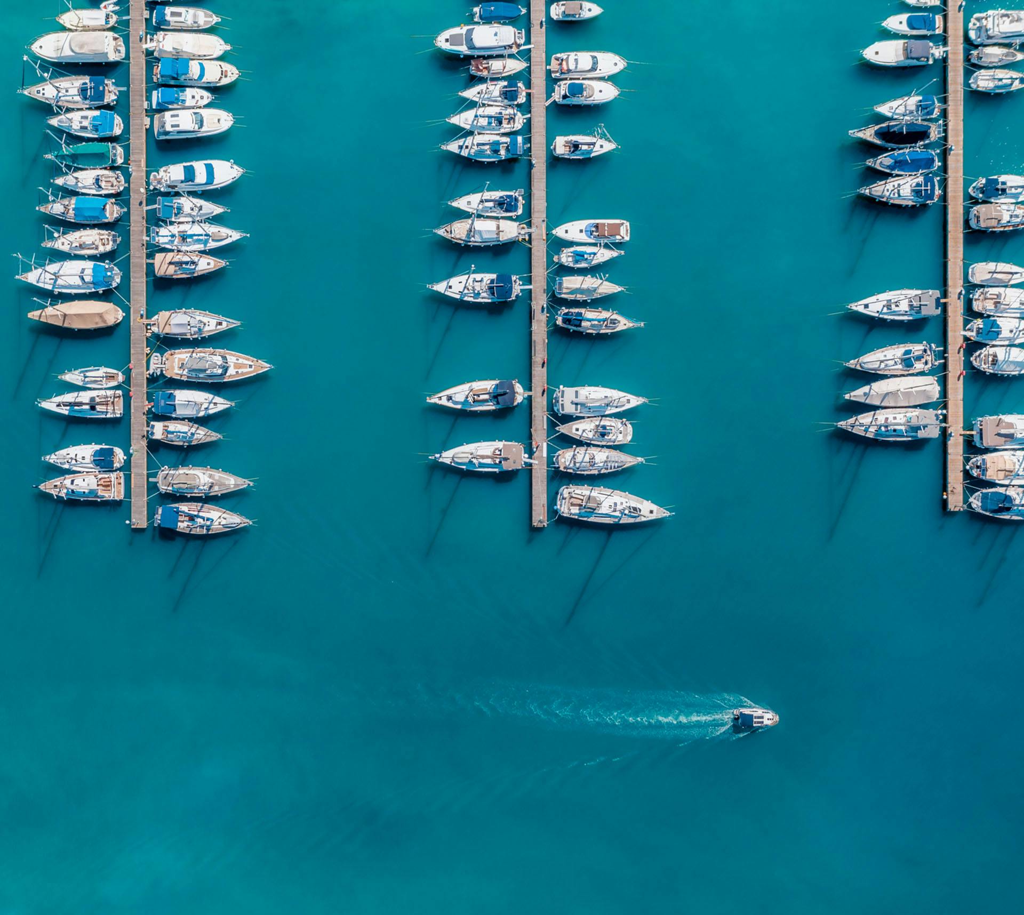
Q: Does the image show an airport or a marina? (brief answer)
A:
marina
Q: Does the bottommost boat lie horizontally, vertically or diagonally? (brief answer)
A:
horizontally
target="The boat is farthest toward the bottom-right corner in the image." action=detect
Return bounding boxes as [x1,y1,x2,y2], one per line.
[732,708,781,728]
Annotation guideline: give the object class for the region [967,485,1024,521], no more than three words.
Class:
boat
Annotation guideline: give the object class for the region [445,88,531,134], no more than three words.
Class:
boat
